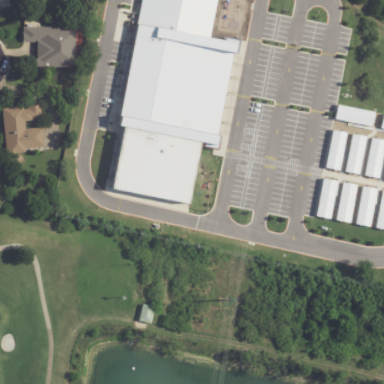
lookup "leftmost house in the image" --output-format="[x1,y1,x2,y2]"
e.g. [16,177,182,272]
[4,106,46,152]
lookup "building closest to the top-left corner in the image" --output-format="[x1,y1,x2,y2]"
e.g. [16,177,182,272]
[24,27,76,66]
